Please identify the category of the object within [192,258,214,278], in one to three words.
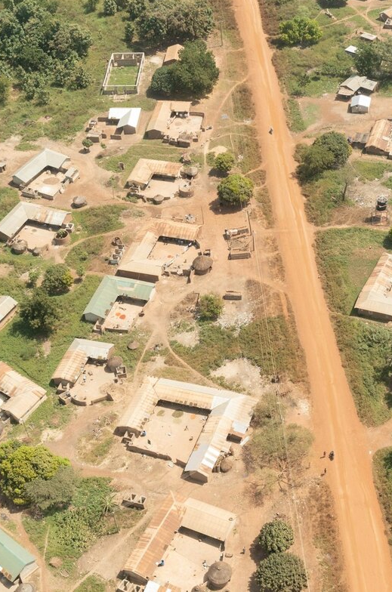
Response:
shed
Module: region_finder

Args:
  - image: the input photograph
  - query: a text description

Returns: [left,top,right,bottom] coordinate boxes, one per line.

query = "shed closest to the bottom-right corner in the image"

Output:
[208,564,231,590]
